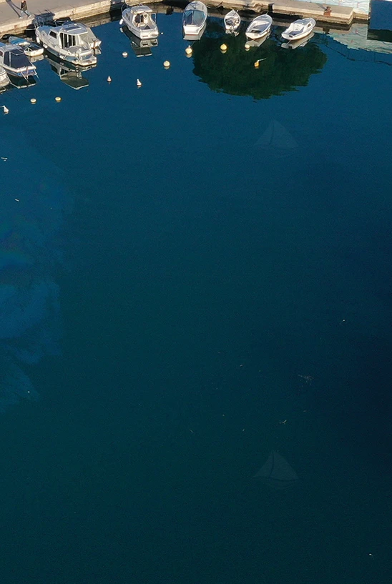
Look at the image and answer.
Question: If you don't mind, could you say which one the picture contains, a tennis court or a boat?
boat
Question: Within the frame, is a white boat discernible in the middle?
No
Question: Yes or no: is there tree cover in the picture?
No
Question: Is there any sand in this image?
No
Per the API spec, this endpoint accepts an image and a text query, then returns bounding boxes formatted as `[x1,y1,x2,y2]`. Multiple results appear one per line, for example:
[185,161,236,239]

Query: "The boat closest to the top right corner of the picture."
[279,19,312,42]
